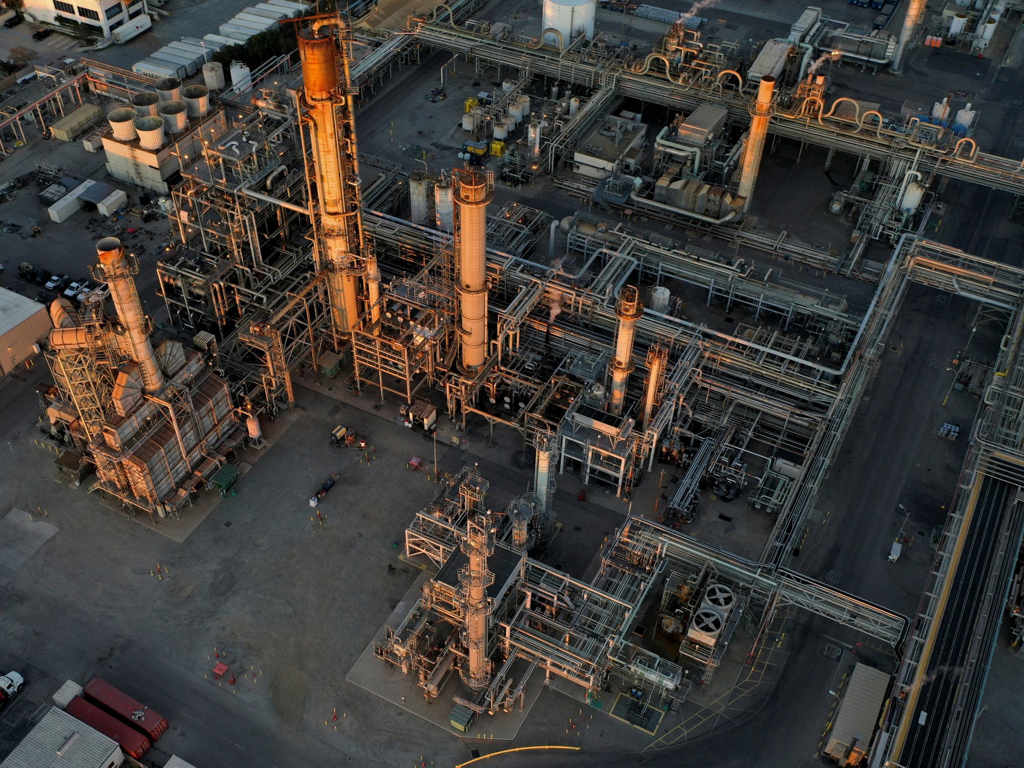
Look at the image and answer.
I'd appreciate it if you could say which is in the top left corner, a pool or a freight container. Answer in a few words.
freight container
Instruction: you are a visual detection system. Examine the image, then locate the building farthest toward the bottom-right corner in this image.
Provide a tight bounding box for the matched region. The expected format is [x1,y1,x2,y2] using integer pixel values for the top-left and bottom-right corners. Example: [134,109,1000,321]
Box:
[818,659,890,768]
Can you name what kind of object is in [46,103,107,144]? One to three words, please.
shipping container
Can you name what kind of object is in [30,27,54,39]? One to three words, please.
vehicle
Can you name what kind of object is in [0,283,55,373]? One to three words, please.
building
